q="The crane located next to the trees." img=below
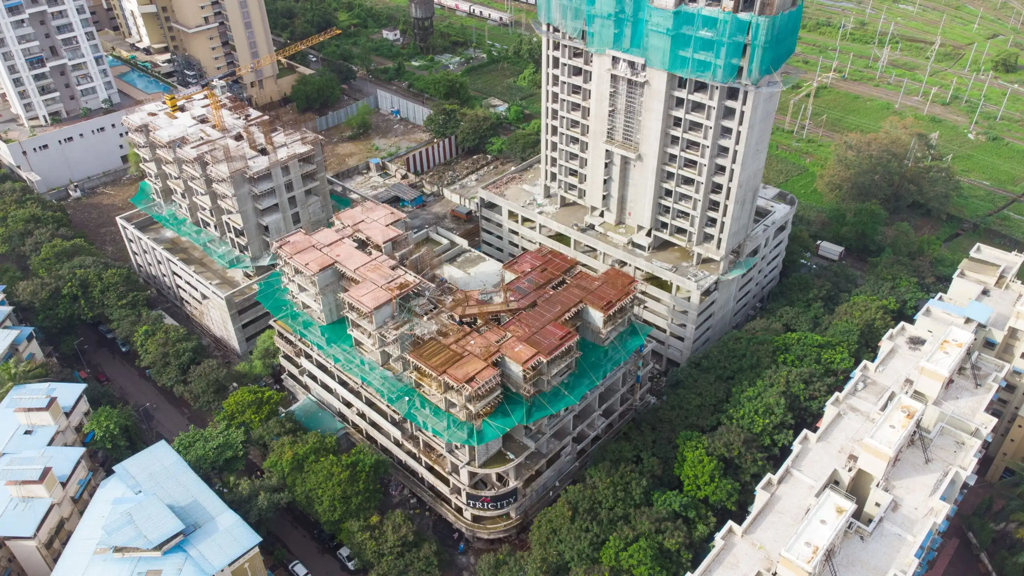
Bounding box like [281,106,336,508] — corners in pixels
[155,24,343,131]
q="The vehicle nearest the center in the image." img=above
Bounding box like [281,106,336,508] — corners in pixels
[448,202,478,225]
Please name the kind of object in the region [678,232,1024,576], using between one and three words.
building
